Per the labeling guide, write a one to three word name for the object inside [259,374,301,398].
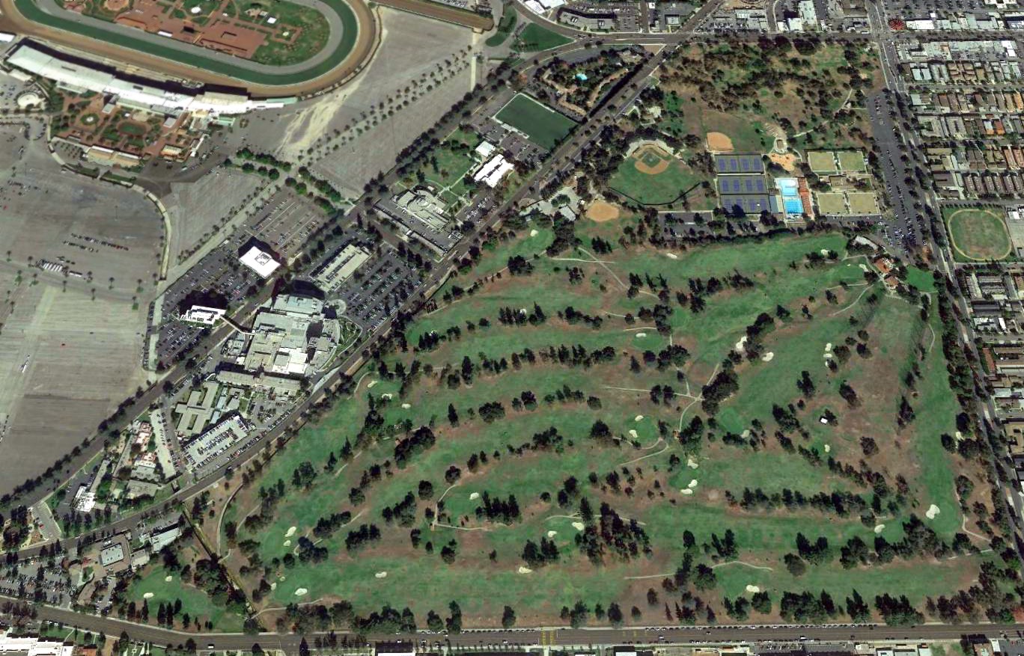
building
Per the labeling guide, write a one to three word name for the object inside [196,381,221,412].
house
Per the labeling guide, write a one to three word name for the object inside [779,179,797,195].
swimming pool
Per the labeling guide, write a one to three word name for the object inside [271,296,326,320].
building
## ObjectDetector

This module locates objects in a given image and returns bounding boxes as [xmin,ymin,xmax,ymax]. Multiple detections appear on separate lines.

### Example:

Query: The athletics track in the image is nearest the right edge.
[945,207,1016,262]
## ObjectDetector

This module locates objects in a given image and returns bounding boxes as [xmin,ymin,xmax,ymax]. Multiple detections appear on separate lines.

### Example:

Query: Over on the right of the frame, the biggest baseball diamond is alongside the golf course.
[608,136,701,205]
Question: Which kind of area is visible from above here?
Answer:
golf course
